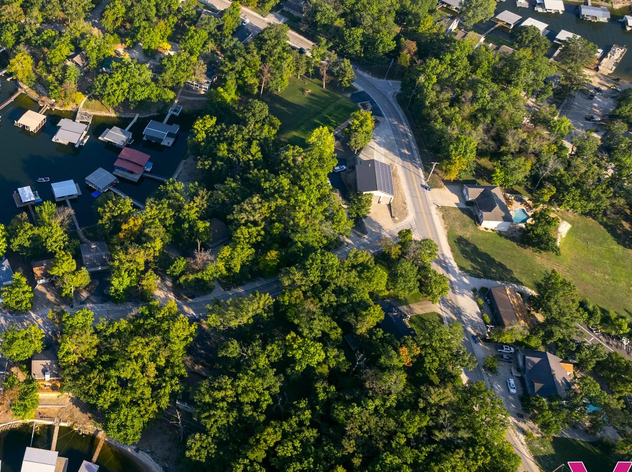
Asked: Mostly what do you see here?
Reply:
trees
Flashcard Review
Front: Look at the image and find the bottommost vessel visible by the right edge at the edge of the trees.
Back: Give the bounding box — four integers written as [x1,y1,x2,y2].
[596,45,626,76]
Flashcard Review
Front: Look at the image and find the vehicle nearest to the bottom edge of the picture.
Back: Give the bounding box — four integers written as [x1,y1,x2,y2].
[506,378,519,395]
